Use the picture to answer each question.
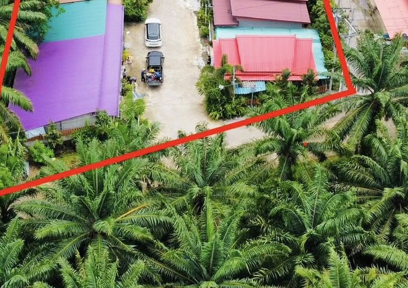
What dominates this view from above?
trees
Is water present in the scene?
No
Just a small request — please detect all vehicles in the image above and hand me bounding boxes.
[145,51,166,91]
[144,21,162,50]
